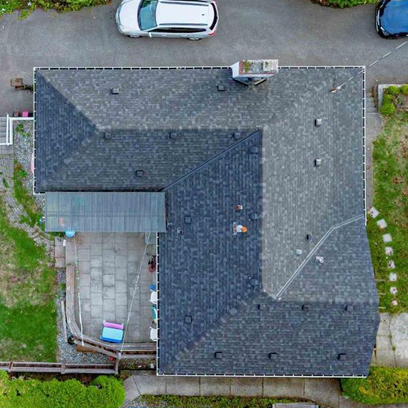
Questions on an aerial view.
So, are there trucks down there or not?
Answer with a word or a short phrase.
No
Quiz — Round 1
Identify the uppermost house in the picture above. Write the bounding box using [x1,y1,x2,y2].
[31,65,382,378]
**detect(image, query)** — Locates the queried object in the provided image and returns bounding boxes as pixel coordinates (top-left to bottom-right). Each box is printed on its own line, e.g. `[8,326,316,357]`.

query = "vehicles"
[114,0,221,42]
[371,0,408,41]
